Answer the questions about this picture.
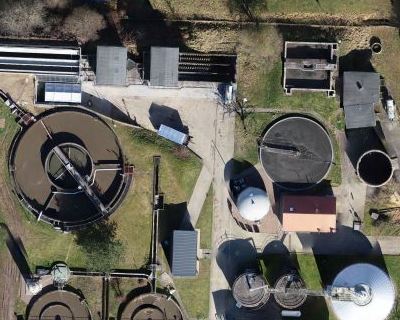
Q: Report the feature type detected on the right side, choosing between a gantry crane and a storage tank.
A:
storage tank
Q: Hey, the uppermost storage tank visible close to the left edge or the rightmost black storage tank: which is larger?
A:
the uppermost storage tank visible close to the left edge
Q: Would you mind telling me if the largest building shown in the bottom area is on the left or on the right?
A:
right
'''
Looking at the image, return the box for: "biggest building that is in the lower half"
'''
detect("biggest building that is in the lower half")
[283,194,336,233]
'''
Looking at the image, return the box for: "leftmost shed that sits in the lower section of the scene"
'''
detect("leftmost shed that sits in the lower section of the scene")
[172,229,200,276]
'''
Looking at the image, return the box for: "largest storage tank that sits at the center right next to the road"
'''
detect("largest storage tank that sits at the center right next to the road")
[259,116,334,190]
